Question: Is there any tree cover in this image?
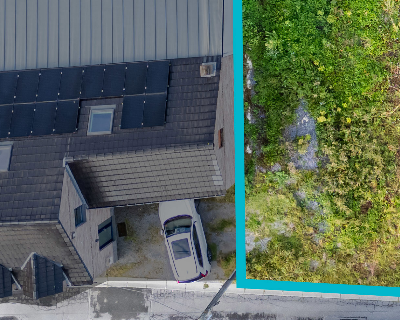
No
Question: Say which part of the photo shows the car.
bottom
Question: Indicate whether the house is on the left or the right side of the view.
left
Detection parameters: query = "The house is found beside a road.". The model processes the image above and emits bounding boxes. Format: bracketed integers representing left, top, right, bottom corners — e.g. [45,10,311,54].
[0,0,242,301]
